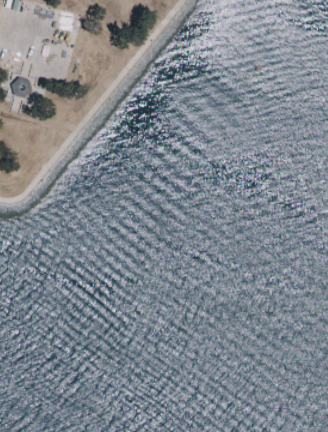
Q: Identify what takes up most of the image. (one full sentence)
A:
The scene is dominated by water.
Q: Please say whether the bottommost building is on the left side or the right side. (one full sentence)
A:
The bottommost building is on the left side of the image.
